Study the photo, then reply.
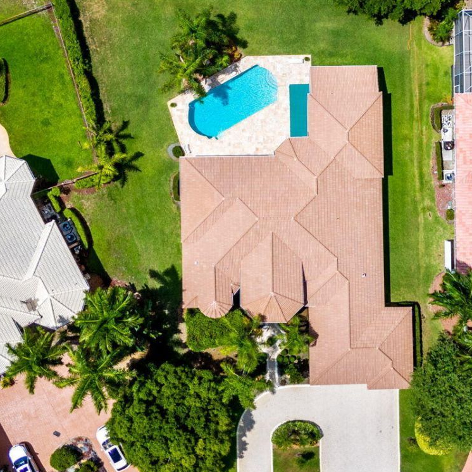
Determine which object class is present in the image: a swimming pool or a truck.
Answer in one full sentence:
The one in the frame is a swimming pool.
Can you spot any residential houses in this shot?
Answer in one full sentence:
Yes, the picture does show a residential house.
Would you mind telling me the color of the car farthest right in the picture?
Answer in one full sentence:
The color of the car farthest right is white.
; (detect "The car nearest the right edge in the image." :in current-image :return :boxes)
[93,425,126,472]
